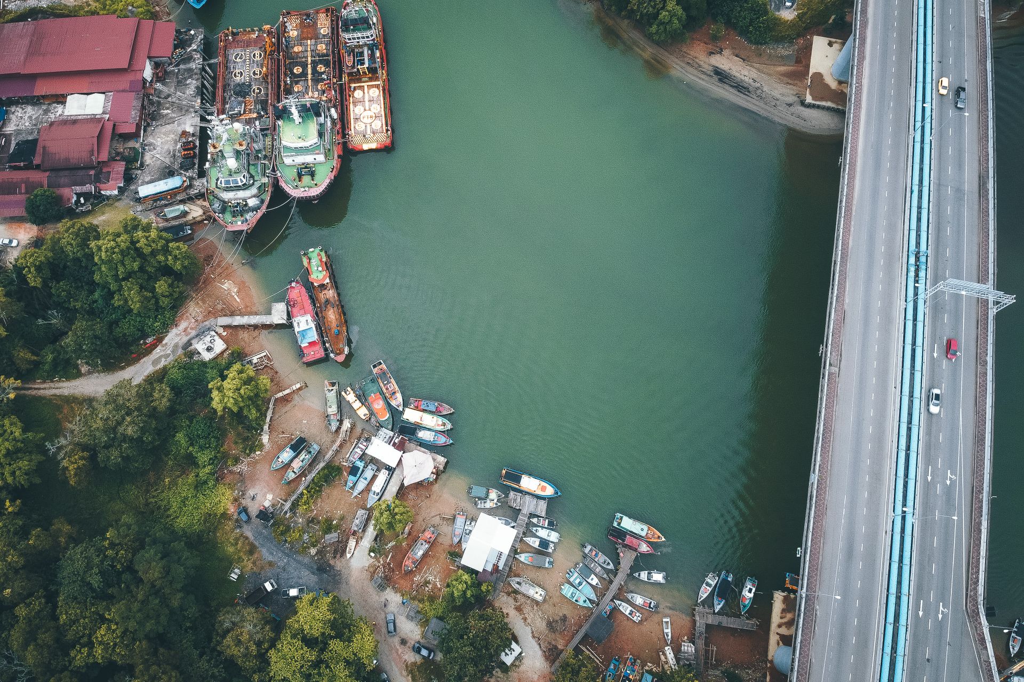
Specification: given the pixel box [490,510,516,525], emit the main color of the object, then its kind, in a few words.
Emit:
gray boat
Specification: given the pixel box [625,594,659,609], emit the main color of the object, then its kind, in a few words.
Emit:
white boat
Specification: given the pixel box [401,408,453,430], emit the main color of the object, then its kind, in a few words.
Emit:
white boat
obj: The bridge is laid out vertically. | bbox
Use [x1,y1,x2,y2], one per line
[765,0,1000,682]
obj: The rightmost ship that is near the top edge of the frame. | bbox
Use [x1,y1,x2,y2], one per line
[339,0,395,155]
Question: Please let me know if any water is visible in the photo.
Yes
